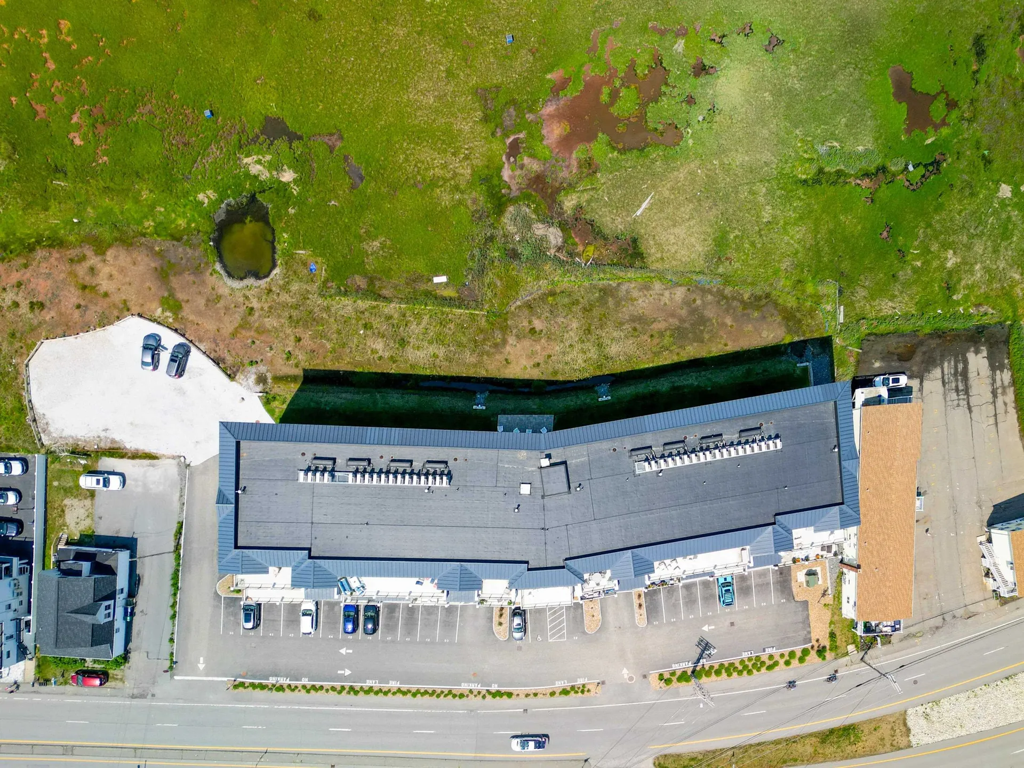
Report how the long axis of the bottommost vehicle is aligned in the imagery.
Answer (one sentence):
I'd say the bottommost vehicle is aligned from side to side in the picture.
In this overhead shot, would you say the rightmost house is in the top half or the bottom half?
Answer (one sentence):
Seen from above, the rightmost house lies in the bottom half of the view.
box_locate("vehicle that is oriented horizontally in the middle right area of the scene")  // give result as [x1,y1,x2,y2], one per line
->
[871,373,907,388]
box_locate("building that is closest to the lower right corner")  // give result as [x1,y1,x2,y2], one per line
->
[978,514,1024,600]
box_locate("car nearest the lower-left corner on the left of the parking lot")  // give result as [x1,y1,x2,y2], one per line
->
[73,669,107,686]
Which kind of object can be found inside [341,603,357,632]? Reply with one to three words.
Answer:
car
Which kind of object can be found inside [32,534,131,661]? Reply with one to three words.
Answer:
house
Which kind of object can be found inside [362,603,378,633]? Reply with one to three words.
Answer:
car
